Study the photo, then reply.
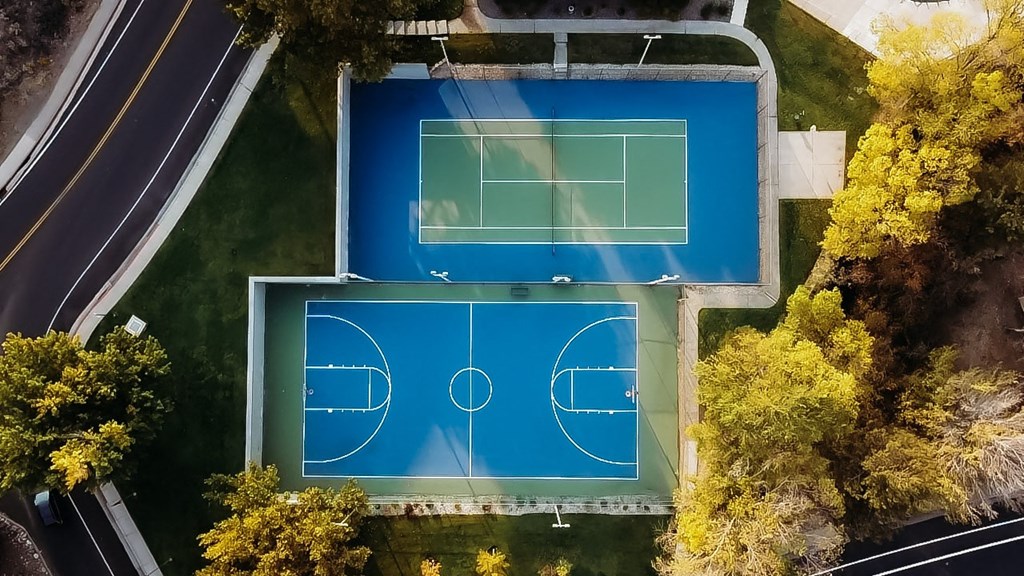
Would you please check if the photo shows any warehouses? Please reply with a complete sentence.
No, no warehouse is visible in the scene.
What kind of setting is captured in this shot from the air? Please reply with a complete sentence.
It's a sports ground.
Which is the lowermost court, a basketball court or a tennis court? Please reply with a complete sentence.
The lowermost court can be classified as a basketball court.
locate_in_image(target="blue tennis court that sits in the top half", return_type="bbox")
[349,79,758,281]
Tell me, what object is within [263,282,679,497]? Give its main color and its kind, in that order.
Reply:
blue basketball court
